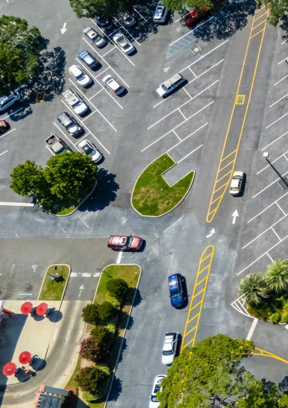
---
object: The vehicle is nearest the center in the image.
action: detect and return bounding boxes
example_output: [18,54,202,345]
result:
[104,234,145,251]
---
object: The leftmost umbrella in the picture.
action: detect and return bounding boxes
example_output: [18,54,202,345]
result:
[2,362,19,376]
